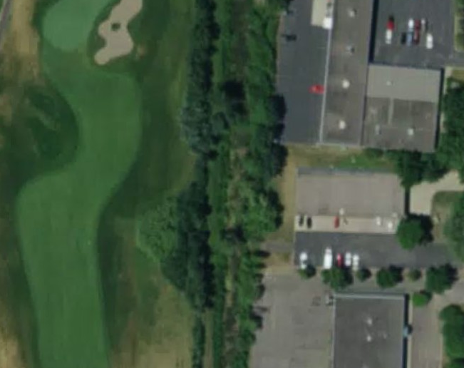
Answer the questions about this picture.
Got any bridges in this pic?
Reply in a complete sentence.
No, the picture doesn't show any bridge.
